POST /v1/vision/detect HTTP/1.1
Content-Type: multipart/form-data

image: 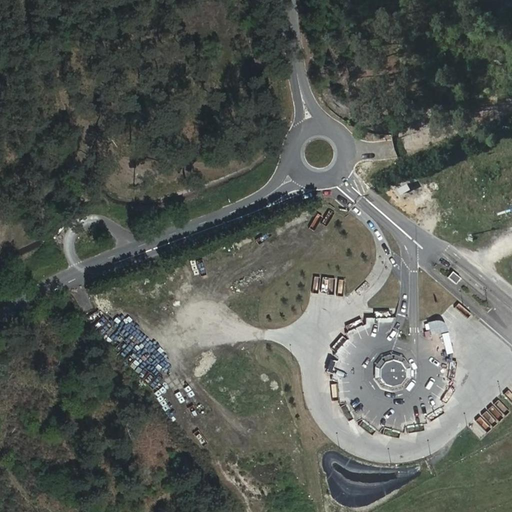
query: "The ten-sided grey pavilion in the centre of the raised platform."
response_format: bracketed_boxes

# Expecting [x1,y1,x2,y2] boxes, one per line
[376,353,414,394]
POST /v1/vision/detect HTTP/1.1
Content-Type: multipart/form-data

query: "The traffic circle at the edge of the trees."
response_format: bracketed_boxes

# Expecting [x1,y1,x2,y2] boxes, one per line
[272,118,356,192]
